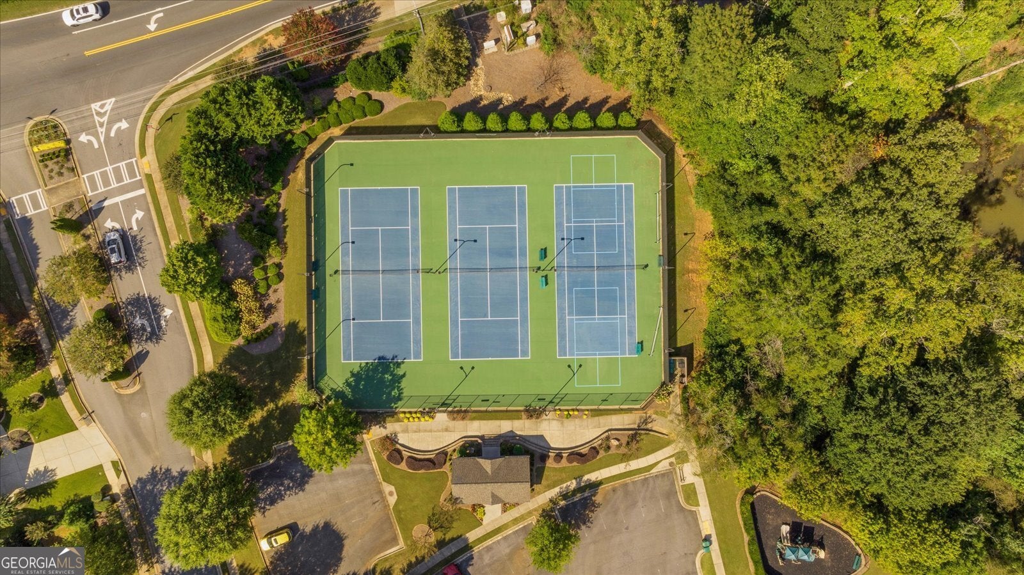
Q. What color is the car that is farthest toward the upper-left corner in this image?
white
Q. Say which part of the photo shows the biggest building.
bottom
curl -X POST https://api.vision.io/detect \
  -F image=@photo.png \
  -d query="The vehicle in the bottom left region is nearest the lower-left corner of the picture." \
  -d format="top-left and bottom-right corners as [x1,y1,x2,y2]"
[259,530,291,551]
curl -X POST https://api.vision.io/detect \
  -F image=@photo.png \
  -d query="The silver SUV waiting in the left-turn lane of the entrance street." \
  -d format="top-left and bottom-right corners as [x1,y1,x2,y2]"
[102,230,125,265]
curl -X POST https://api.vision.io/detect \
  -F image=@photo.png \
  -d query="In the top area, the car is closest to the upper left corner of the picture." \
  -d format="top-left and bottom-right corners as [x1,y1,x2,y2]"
[61,1,98,23]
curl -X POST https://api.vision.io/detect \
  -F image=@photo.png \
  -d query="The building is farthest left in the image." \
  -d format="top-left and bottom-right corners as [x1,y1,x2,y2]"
[451,452,531,507]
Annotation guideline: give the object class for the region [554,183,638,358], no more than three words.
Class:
tennis court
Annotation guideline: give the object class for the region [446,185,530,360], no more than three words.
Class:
tennis court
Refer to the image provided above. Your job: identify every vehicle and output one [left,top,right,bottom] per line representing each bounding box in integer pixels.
[102,230,125,265]
[259,530,291,551]
[61,1,98,23]
[444,564,459,575]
